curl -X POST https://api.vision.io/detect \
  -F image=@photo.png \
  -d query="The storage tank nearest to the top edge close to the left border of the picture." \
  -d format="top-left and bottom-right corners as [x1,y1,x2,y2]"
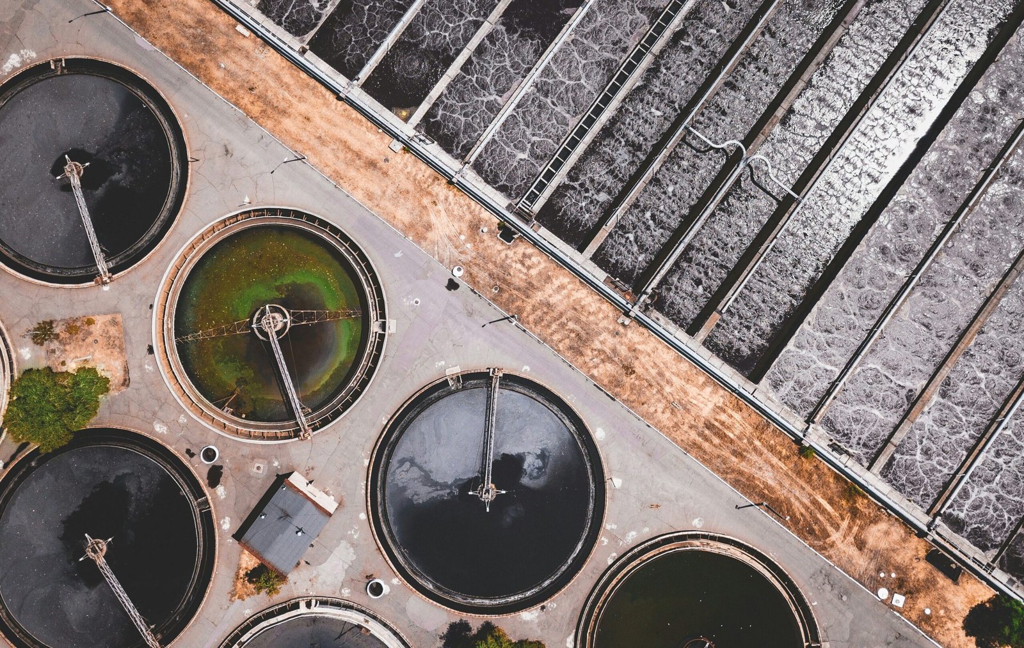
[0,54,192,288]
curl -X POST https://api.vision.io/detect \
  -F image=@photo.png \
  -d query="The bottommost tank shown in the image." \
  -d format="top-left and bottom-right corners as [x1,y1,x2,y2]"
[219,596,413,648]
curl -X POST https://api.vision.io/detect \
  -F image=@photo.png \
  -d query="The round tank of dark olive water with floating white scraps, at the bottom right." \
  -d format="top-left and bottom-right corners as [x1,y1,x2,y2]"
[576,531,822,648]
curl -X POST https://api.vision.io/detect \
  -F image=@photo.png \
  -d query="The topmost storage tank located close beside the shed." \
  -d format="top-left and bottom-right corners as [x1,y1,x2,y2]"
[151,207,398,444]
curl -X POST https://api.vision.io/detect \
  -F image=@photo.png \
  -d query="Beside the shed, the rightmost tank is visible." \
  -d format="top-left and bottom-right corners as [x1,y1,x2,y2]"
[362,368,610,614]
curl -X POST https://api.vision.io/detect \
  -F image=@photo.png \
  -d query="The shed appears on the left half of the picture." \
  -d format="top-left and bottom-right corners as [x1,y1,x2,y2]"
[238,468,341,577]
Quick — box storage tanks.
[151,207,398,444]
[576,531,822,648]
[0,54,192,288]
[219,596,413,648]
[362,368,610,614]
[0,435,217,648]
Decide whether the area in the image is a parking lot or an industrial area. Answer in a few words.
industrial area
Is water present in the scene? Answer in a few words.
Yes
